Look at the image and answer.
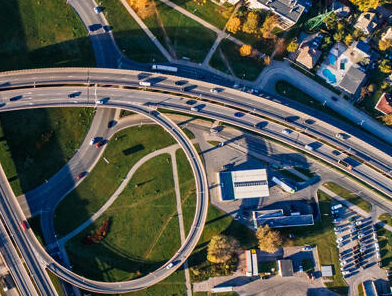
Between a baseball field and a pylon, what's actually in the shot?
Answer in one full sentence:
The one in the frame is a pylon.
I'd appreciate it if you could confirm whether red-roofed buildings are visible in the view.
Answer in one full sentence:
Yes, there's a red-roofed building here.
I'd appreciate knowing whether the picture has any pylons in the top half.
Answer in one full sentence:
Yes, the scene does show a pylon in the top half.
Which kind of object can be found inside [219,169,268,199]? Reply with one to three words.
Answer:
building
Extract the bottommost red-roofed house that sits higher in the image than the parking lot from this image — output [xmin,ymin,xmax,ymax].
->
[371,91,392,117]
